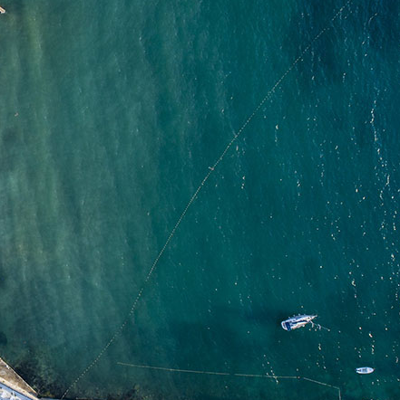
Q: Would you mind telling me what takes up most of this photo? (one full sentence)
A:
Most of the picture is covered by water.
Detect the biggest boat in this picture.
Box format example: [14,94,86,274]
[279,314,323,330]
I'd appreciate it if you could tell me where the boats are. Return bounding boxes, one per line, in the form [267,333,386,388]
[279,314,323,330]
[354,367,374,374]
